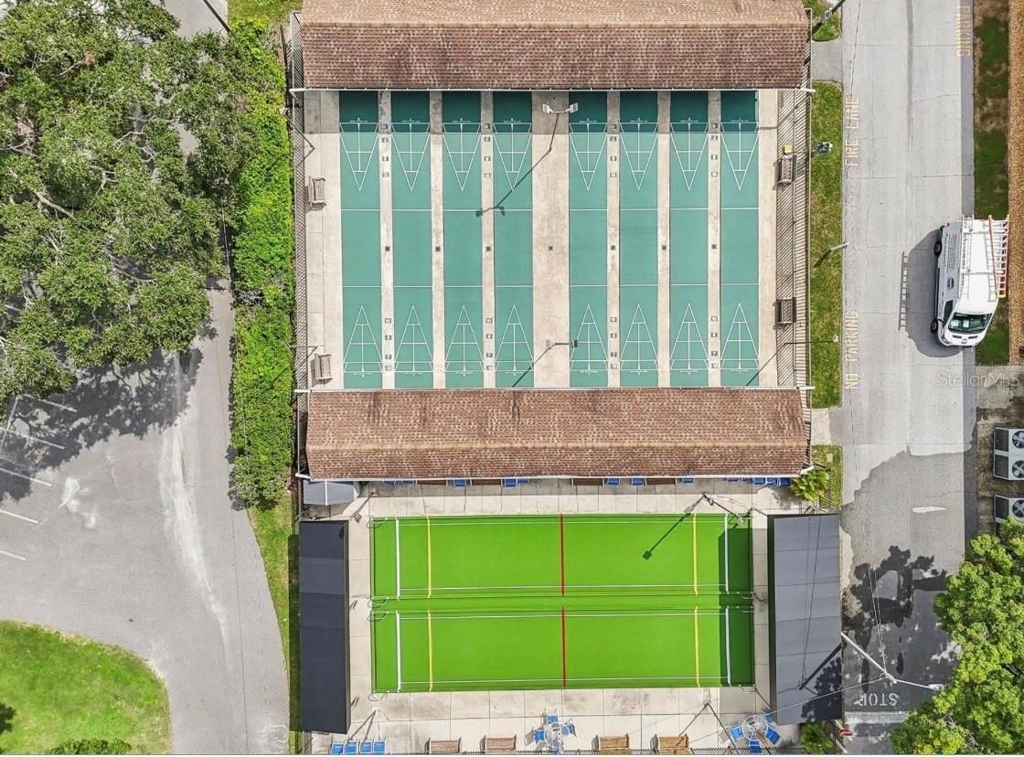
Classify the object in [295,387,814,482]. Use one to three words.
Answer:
building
